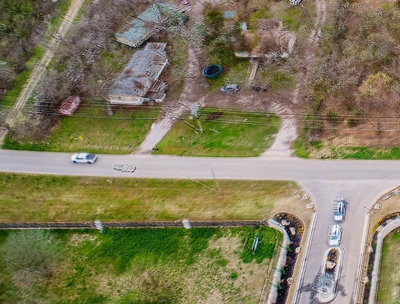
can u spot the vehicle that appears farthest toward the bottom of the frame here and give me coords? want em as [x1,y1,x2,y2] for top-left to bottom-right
[325,221,344,246]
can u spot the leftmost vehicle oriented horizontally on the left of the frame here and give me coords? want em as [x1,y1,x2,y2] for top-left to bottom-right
[66,150,99,165]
